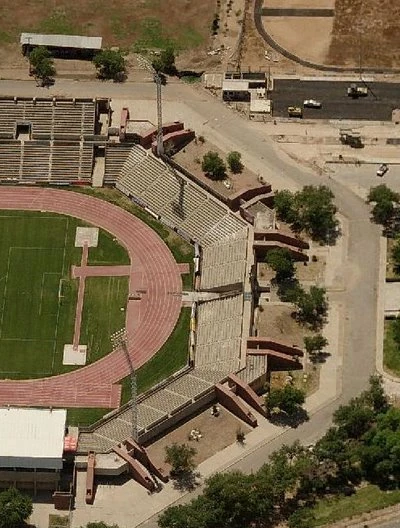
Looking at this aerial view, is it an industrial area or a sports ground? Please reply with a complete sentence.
This image shows a sports ground.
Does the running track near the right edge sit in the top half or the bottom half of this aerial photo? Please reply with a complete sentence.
You can find the running track near the right edge in the top half.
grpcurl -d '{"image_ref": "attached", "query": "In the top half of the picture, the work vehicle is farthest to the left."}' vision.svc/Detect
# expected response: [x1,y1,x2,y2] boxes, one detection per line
[286,104,302,116]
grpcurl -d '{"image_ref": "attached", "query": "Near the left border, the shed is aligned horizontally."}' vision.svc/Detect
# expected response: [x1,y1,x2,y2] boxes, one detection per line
[20,33,101,59]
